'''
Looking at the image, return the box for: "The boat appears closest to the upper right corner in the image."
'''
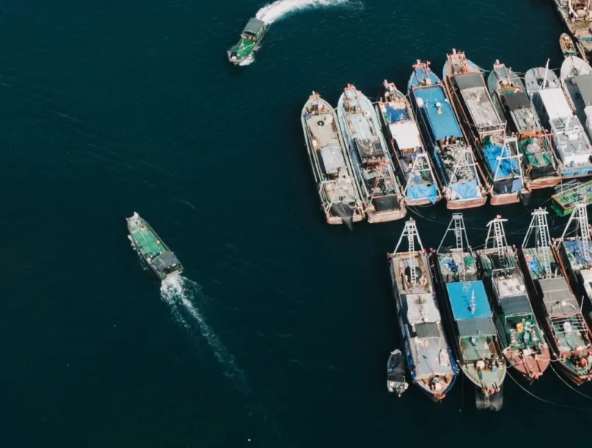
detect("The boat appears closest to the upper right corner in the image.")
[561,33,580,63]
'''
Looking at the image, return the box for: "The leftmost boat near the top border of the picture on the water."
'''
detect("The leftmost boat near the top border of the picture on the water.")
[231,12,269,72]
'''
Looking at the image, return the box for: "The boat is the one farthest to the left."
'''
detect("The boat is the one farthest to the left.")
[130,214,184,284]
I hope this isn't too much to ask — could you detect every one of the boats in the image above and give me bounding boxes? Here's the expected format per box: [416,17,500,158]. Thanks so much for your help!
[561,33,580,63]
[489,56,560,192]
[439,208,501,403]
[480,201,543,389]
[377,76,442,209]
[304,87,363,228]
[533,64,592,182]
[391,210,452,406]
[446,45,525,205]
[558,195,592,338]
[550,177,592,217]
[130,214,184,284]
[564,53,592,151]
[386,352,410,397]
[411,56,484,209]
[231,12,269,72]
[341,79,404,226]
[522,199,590,389]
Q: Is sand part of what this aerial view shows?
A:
No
